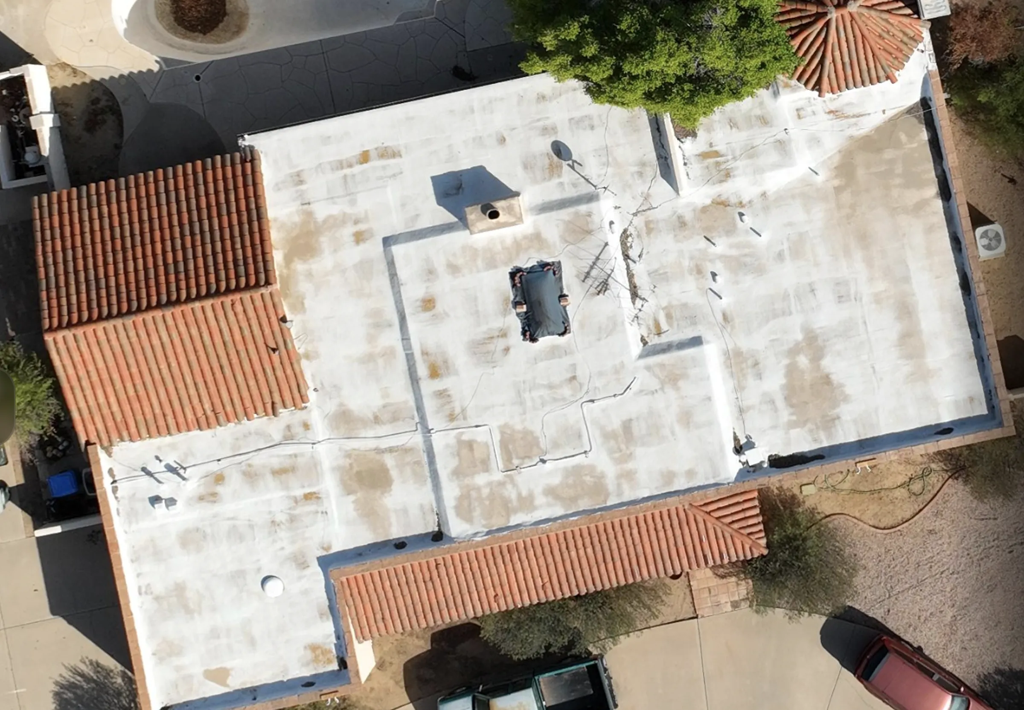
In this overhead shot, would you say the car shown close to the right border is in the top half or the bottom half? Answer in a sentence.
The car shown close to the right border is in the bottom half of the image.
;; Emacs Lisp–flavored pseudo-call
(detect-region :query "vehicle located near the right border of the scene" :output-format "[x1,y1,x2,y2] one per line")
[852,633,992,710]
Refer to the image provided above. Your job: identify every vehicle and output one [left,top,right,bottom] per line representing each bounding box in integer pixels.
[440,651,620,710]
[852,633,992,710]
